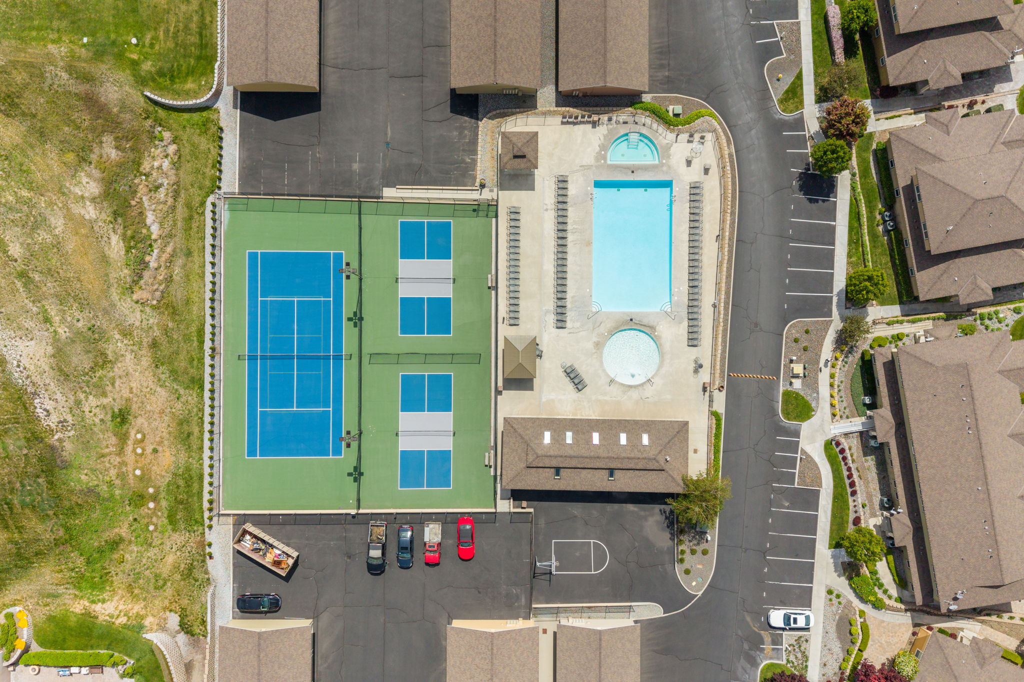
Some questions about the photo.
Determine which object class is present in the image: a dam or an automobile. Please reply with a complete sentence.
Visible in the photo is an automobile.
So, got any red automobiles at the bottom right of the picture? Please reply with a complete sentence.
No, I see no red automobile at the bottom right of the picture.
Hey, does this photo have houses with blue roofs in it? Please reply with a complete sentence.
No, I can't see a single house with a blue roof in this photo.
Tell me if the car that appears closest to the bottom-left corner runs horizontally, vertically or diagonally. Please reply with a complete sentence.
I'd say the car that appears closest to the bottom-left corner is aligned horizontally in the picture.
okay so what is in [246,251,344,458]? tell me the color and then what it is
blue tennis court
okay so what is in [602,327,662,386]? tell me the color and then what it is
white swimming pool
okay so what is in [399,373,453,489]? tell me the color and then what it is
blue sports court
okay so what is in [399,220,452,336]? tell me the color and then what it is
blue sports court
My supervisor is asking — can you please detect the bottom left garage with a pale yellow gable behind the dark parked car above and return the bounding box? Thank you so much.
[219,618,314,682]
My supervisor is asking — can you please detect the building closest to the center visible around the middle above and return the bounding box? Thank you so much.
[503,335,537,379]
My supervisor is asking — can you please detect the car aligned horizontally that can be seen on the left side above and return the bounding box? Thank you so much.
[237,592,282,614]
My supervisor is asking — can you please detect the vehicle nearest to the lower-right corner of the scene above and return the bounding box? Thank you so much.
[767,608,813,630]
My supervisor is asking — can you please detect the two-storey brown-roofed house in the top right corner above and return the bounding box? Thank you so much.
[871,0,1024,90]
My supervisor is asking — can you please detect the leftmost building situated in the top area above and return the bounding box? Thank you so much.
[227,0,321,92]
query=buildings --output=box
[869,324,1024,613]
[450,0,541,96]
[883,107,1024,305]
[500,131,539,171]
[219,618,314,682]
[558,0,648,97]
[871,0,1024,90]
[447,617,539,682]
[227,0,321,92]
[557,615,640,682]
[503,335,537,379]
[899,627,1024,682]
[501,417,689,492]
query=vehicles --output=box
[423,519,443,567]
[396,525,415,568]
[366,518,388,573]
[767,608,813,630]
[457,516,476,559]
[237,592,282,614]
